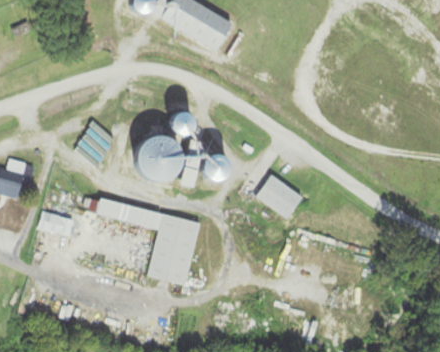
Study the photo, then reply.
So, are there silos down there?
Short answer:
Yes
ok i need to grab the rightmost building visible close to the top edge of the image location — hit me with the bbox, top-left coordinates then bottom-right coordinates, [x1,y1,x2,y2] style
[164,0,232,50]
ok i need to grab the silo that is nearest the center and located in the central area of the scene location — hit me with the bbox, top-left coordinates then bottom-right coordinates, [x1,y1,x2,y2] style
[200,154,232,184]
